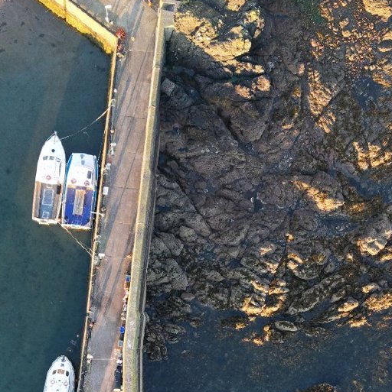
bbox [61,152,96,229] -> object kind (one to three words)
boat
